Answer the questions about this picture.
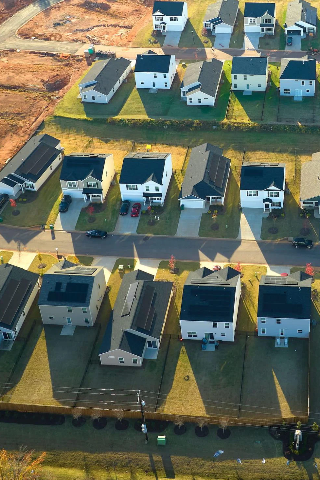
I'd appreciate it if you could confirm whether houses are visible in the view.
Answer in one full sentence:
Yes, looking at the shot, I can spot a house.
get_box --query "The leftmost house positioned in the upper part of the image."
[0,131,74,195]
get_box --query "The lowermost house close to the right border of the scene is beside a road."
[256,271,313,340]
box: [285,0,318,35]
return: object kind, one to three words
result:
house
